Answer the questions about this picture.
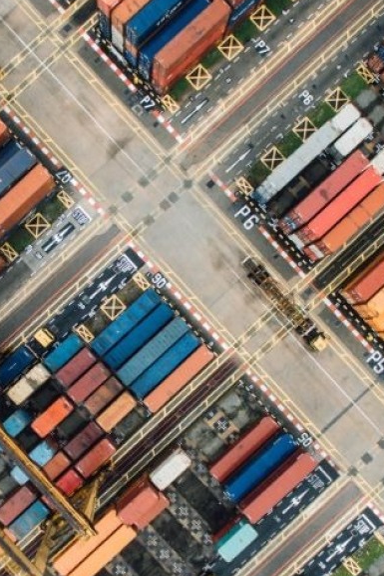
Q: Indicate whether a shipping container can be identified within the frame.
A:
Yes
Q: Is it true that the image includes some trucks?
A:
Yes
